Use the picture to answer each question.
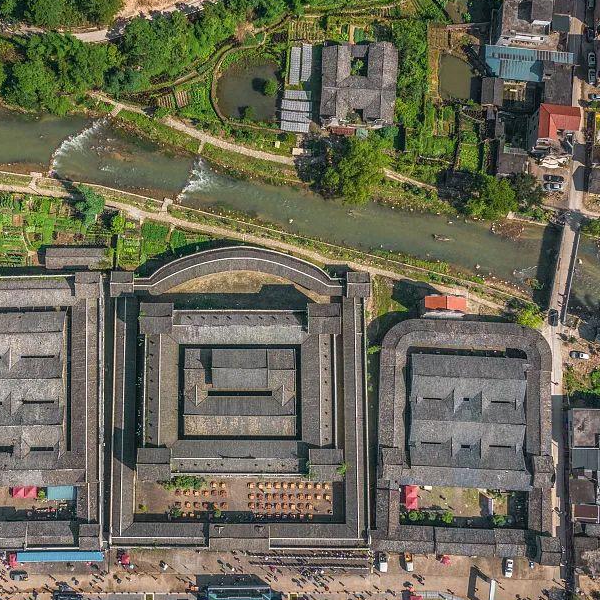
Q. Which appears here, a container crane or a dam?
dam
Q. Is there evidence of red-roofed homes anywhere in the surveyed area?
Yes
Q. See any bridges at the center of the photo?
No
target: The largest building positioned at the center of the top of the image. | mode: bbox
[320,42,397,137]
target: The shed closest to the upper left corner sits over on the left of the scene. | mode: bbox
[45,247,106,267]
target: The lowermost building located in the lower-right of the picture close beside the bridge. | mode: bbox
[371,320,561,566]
